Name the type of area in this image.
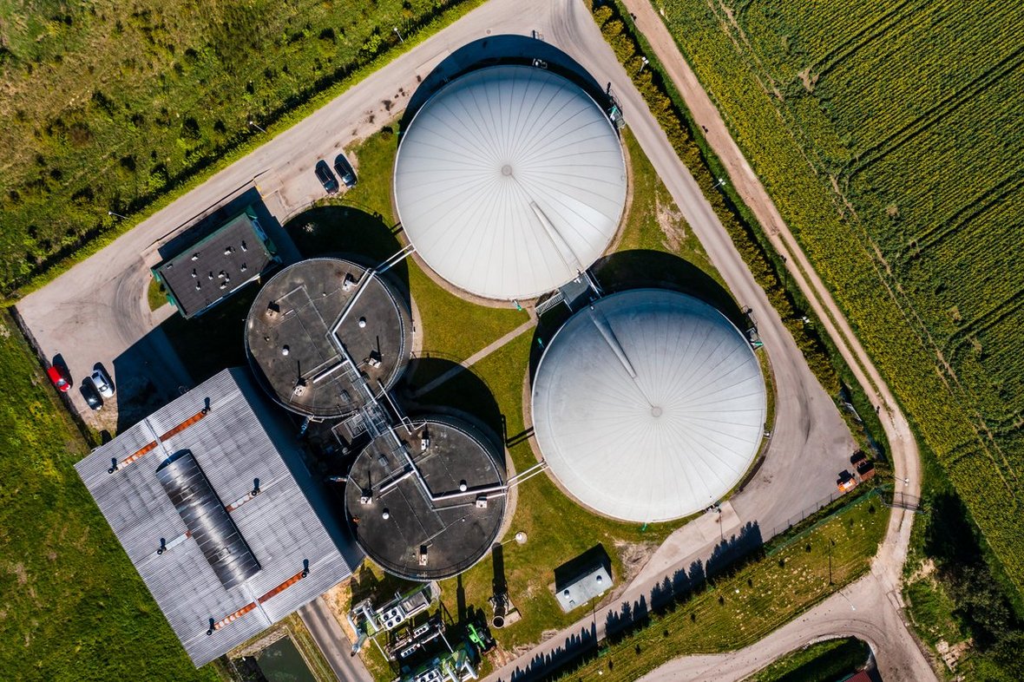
industrial area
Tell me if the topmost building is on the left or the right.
left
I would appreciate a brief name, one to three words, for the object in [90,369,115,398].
car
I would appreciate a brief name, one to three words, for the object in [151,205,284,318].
building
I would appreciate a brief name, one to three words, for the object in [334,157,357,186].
car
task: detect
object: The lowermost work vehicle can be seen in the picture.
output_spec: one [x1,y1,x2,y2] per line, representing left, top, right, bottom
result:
[463,623,495,661]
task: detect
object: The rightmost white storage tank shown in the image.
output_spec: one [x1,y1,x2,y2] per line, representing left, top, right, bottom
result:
[532,288,767,522]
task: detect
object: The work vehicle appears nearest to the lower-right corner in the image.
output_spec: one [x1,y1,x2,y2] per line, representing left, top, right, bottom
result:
[829,473,858,493]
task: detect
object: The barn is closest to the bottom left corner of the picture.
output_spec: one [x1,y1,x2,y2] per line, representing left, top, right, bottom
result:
[74,369,363,667]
